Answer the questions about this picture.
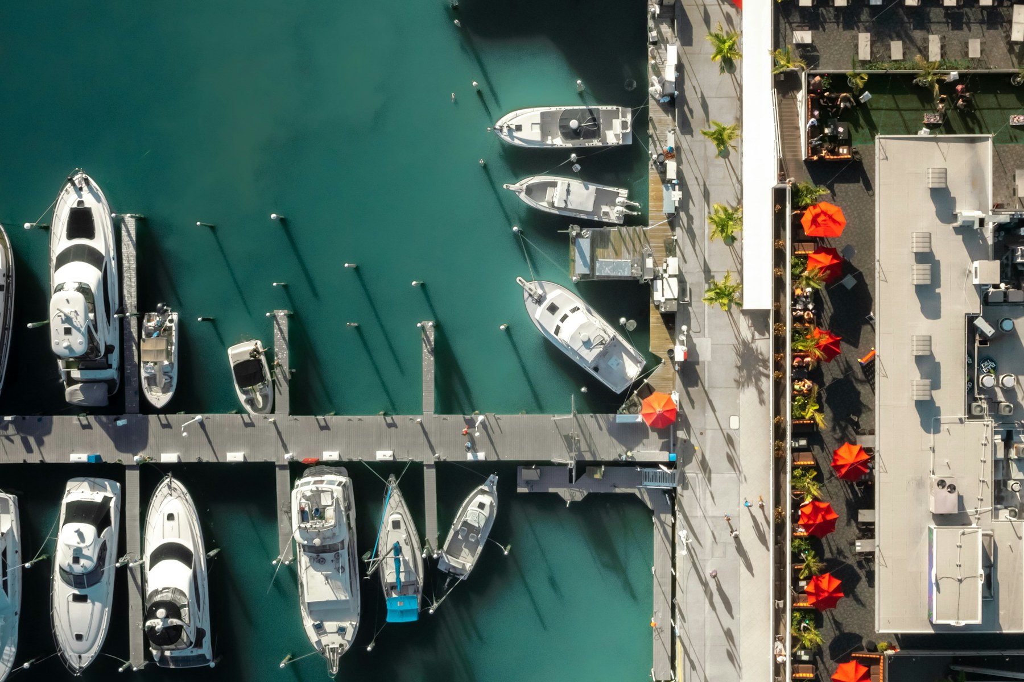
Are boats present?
Yes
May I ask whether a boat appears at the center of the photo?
Yes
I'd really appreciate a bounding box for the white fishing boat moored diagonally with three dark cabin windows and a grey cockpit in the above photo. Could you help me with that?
[519,281,646,393]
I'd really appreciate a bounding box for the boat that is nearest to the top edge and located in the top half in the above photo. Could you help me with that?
[488,105,634,148]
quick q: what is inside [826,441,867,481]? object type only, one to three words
umbrella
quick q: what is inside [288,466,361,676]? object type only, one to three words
boat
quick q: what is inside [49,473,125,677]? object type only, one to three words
boat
